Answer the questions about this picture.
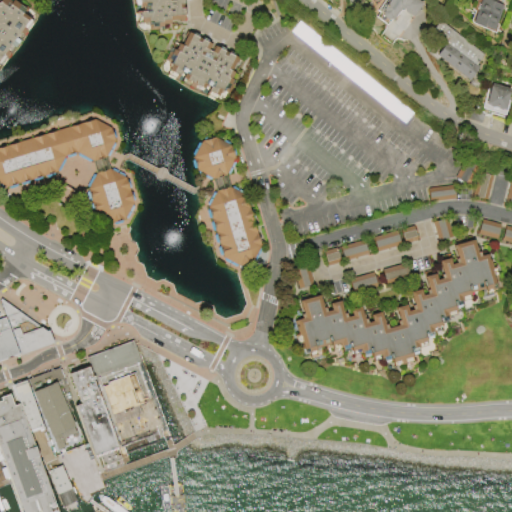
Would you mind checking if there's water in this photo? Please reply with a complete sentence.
Yes, water can be seen from above here.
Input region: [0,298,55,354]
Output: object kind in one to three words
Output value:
building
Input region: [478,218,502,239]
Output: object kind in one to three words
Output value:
house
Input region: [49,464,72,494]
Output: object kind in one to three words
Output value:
shed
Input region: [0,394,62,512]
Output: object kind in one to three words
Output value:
building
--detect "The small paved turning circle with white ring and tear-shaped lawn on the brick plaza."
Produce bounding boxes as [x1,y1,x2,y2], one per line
[46,300,84,338]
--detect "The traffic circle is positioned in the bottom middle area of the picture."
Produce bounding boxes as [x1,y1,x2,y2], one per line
[235,356,275,396]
